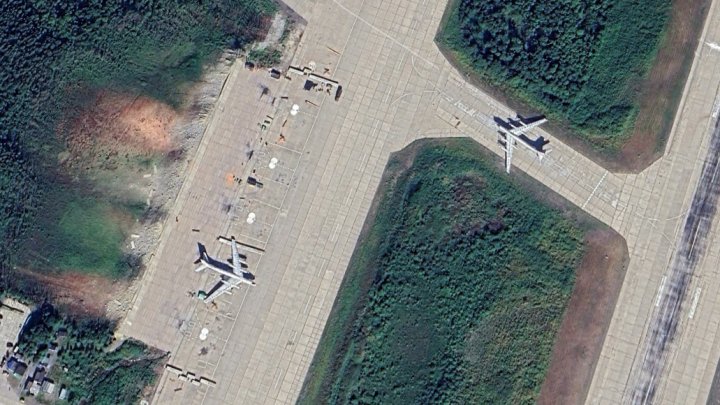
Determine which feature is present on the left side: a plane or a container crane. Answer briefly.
plane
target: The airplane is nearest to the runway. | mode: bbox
[494,117,553,170]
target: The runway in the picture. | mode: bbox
[586,0,720,405]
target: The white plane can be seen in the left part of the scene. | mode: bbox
[193,238,258,303]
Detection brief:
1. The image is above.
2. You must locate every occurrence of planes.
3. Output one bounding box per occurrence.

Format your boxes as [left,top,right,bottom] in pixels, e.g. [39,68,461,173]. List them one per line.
[494,117,553,170]
[193,238,258,303]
